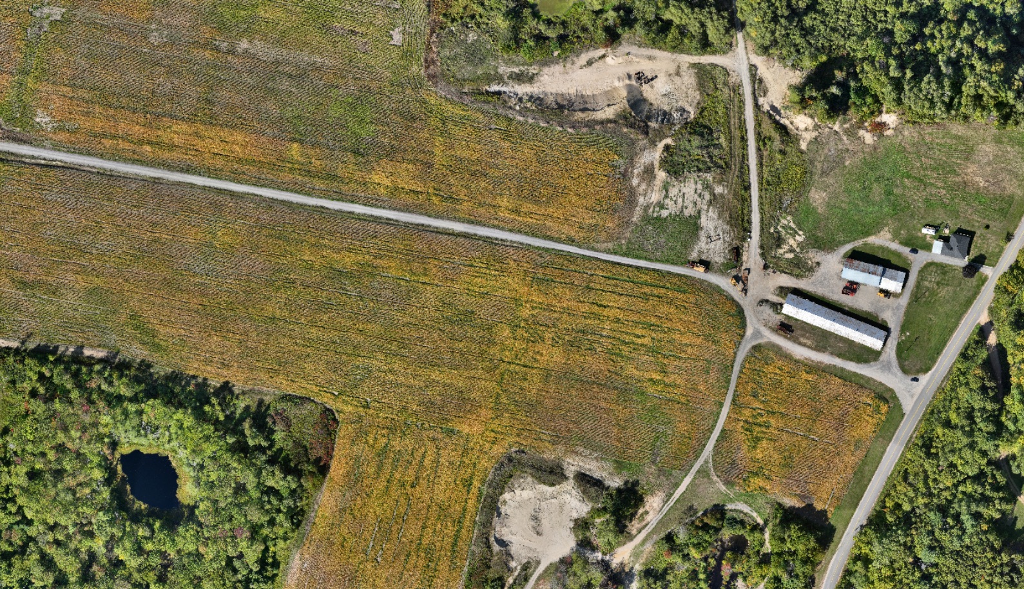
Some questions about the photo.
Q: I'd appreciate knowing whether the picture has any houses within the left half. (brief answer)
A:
No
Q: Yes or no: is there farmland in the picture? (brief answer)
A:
Yes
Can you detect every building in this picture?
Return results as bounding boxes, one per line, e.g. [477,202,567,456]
[842,260,905,293]
[782,294,888,350]
[930,233,972,263]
